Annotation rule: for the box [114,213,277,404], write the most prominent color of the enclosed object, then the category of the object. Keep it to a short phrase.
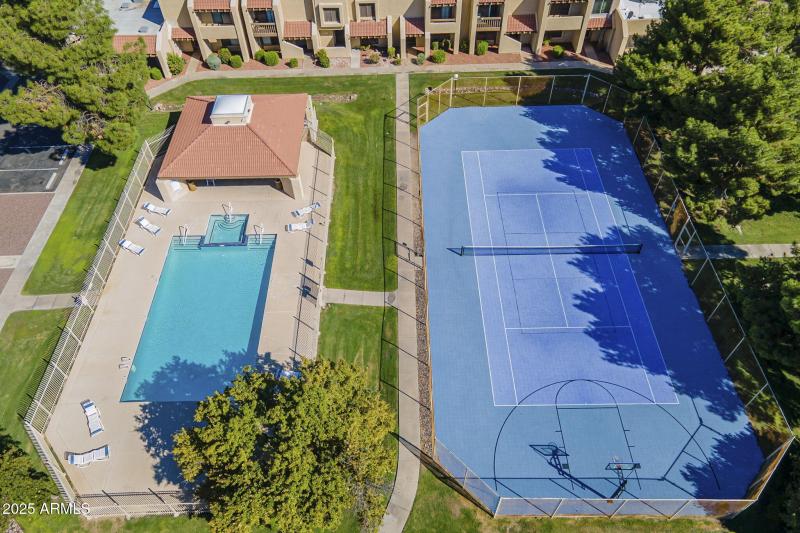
blue swimming pool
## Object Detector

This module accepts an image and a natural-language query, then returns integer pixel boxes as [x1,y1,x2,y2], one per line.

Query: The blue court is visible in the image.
[417,104,764,520]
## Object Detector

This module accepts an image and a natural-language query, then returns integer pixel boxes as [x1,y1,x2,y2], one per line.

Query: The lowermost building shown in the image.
[155,91,320,202]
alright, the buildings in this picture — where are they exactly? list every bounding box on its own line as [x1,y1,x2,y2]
[24,0,670,77]
[155,91,320,202]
